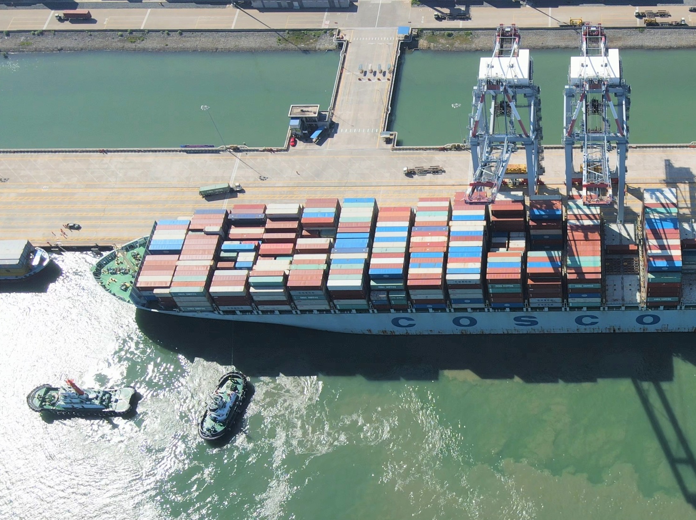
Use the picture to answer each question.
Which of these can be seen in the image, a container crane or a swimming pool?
container crane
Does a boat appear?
Yes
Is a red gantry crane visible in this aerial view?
No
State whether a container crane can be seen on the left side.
No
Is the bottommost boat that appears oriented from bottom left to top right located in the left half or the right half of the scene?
left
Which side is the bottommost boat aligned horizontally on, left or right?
left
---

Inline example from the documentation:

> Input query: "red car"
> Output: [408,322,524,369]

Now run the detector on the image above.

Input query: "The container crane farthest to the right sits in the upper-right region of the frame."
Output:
[558,17,637,221]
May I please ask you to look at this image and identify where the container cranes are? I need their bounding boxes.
[558,17,637,221]
[464,18,555,202]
